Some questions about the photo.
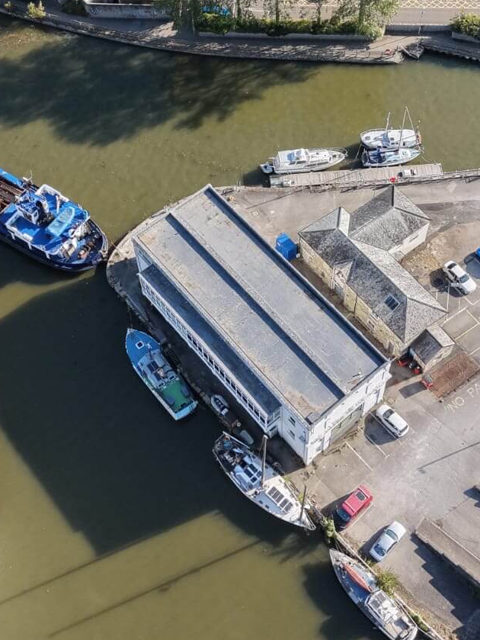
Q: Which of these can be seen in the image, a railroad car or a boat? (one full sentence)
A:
Visible in the photo is a boat.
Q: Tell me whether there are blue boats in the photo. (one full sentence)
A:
Yes, the picture does show a blue boat.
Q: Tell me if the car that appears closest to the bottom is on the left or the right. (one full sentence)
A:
The car that appears closest to the bottom appears in the right half of the scene.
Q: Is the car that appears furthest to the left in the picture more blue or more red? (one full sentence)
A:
In this view, the car that appears furthest to the left is red.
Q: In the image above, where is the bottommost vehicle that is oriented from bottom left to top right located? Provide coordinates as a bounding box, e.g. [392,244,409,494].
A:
[368,514,410,567]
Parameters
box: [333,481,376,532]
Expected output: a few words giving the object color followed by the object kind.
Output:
red car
